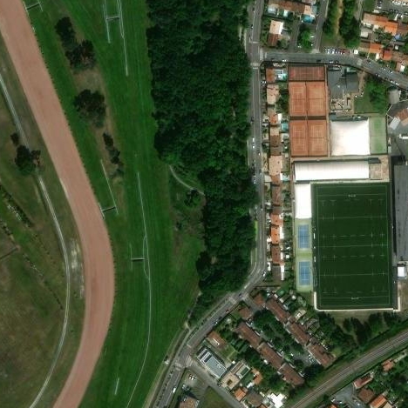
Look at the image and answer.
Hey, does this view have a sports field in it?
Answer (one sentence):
Yes, a sports field is visible in the scene.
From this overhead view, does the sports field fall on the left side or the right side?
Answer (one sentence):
You can find the sports field on the right side of the picture.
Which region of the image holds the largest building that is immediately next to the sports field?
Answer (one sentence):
The largest building that is immediately next to the sports field is located in the right region of the scene.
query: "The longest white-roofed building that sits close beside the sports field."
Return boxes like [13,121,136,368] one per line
[294,161,369,182]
